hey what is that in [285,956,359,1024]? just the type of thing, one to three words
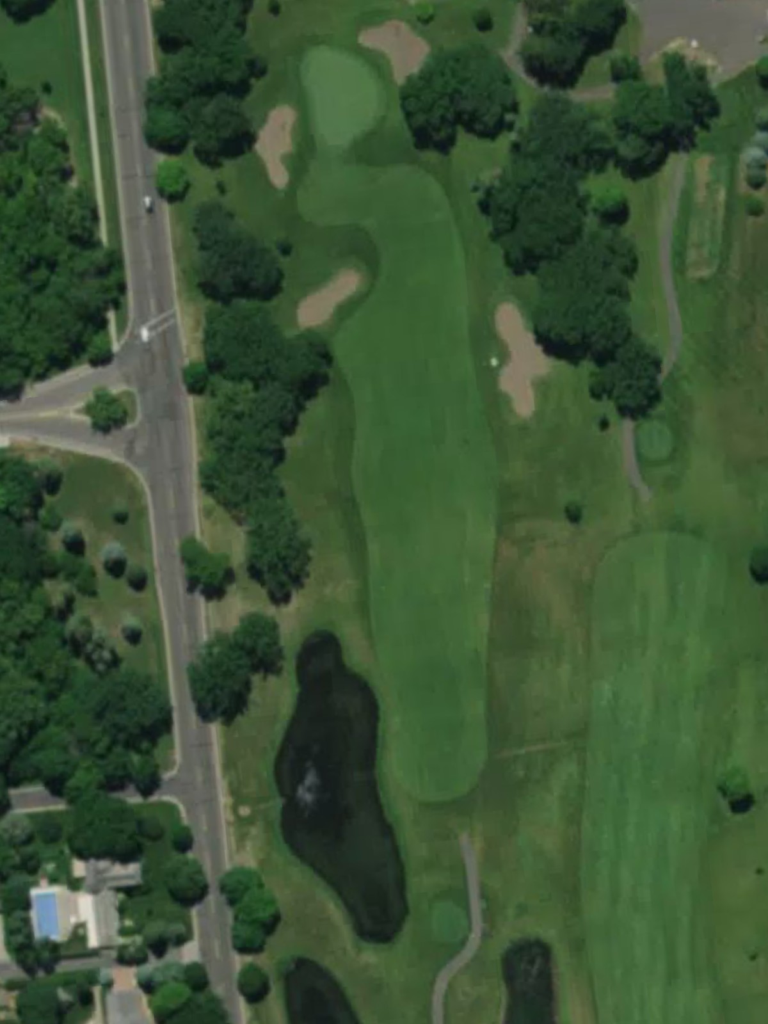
pond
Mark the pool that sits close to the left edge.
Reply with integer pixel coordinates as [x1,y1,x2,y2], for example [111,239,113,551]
[31,888,64,938]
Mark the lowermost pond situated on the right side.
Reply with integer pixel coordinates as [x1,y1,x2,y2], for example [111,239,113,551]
[504,938,555,1024]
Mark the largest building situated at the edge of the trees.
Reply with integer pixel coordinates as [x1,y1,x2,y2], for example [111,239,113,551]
[71,859,141,949]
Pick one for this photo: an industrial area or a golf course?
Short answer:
golf course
